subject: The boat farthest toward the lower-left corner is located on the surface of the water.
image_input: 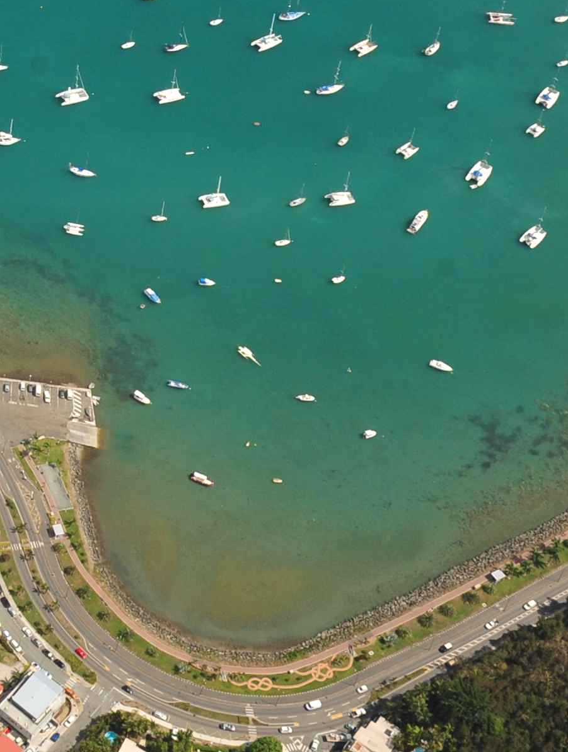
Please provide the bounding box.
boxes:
[189,472,214,485]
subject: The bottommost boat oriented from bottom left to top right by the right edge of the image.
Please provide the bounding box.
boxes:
[519,207,547,250]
